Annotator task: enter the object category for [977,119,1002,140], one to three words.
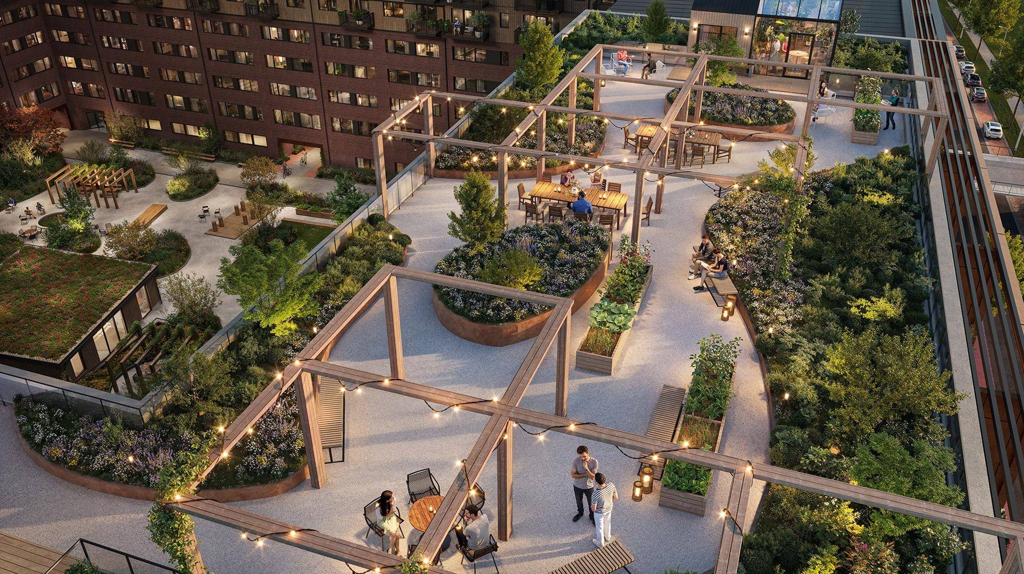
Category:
car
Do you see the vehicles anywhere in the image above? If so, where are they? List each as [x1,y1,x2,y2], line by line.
[966,85,988,103]
[958,58,976,73]
[961,70,982,86]
[953,44,971,59]
[977,119,1002,140]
